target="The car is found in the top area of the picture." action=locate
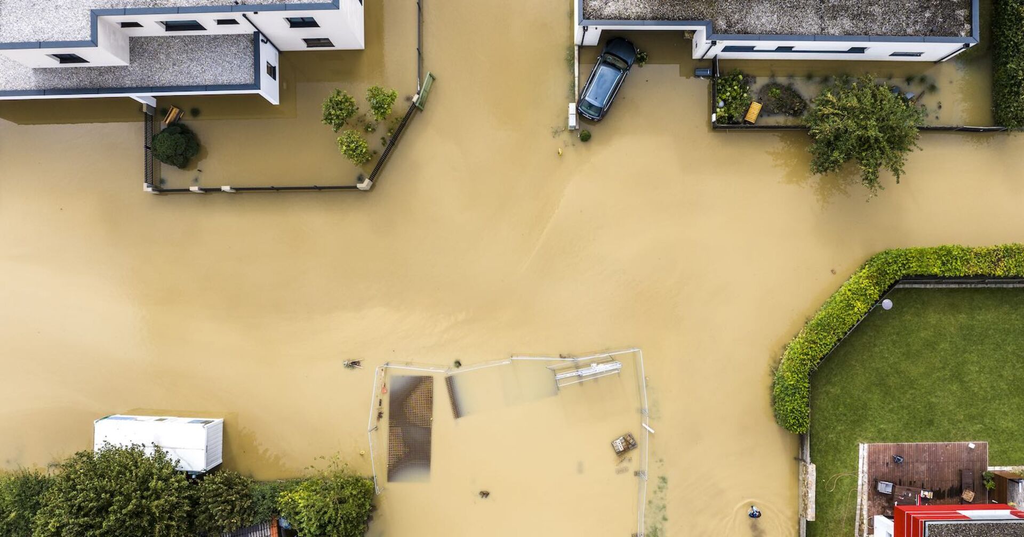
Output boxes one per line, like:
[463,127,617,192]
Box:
[576,38,638,129]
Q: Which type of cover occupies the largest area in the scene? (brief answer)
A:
water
